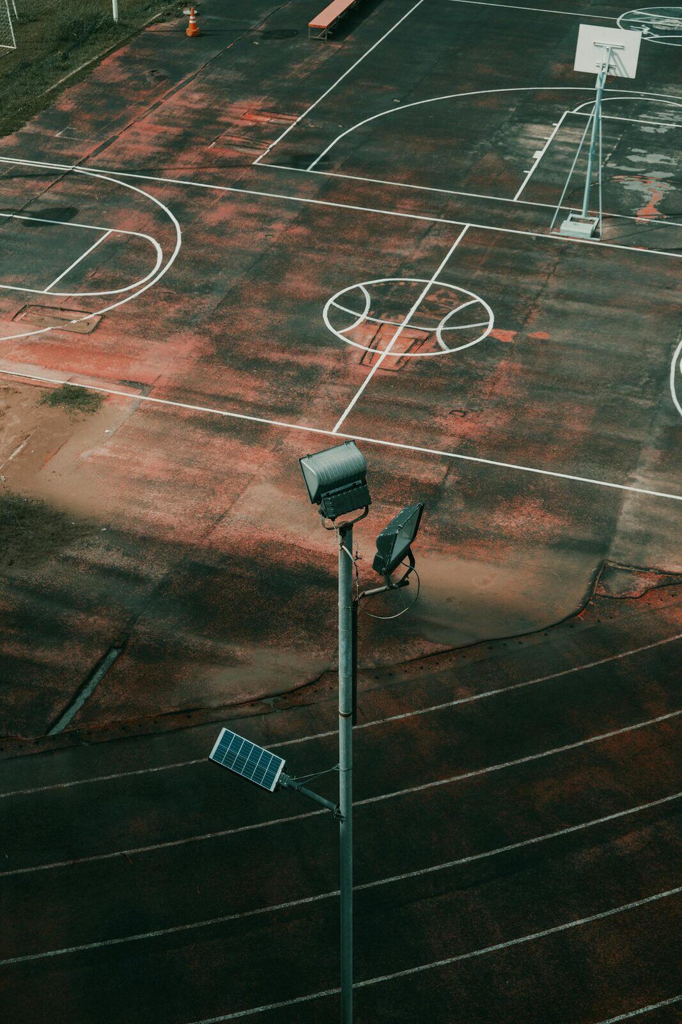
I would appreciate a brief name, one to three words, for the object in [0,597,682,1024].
running track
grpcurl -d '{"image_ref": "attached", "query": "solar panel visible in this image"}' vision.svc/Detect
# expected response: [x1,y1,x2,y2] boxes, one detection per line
[212,735,281,792]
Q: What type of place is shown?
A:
sports ground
